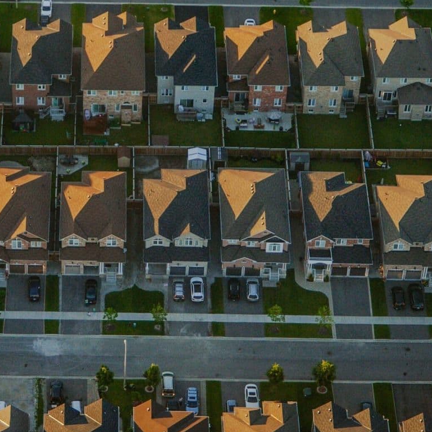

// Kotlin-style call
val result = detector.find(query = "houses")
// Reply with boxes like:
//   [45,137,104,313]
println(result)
[309,400,390,432]
[223,17,291,114]
[218,168,291,288]
[131,395,210,432]
[43,396,123,432]
[9,13,75,124]
[0,170,52,274]
[295,17,365,123]
[373,176,432,291]
[299,172,373,287]
[367,15,432,124]
[142,169,211,286]
[221,398,301,432]
[153,13,218,119]
[81,11,145,132]
[0,397,33,432]
[57,171,126,288]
